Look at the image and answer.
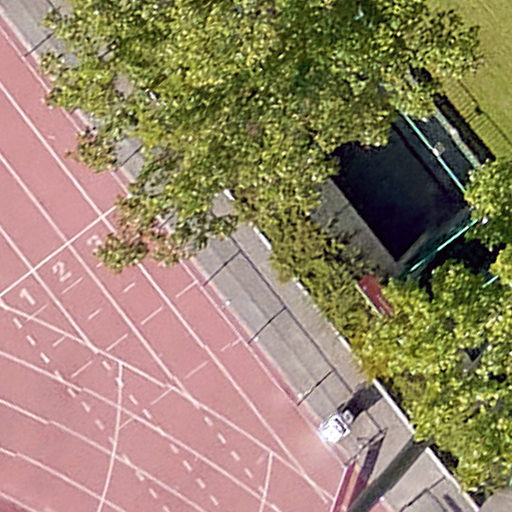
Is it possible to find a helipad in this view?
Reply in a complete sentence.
No, I can't see a single helipad in this photo.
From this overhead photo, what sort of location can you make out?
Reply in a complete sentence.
It's a sports ground.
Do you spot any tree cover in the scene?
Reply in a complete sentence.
Yes, tree cover shows up in the scene.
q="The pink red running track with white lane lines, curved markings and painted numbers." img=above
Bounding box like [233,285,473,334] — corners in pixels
[0,14,390,512]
